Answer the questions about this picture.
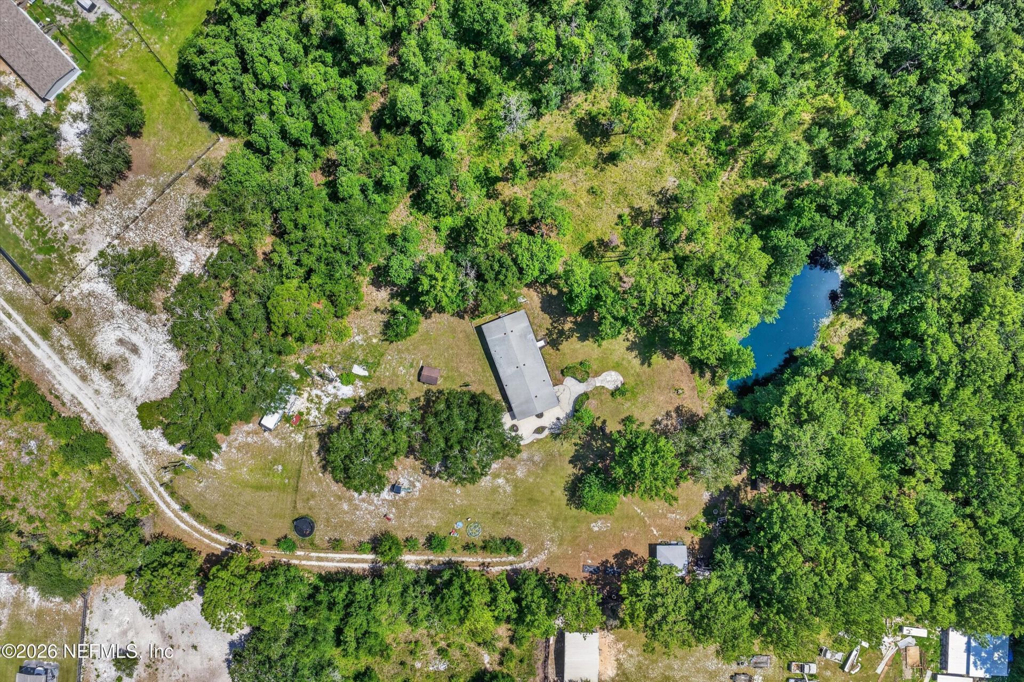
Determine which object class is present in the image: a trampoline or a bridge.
trampoline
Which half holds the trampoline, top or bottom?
bottom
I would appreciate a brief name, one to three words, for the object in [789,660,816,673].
vehicle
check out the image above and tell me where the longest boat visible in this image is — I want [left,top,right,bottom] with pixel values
[842,644,860,674]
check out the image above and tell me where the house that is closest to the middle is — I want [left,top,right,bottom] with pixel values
[482,310,560,420]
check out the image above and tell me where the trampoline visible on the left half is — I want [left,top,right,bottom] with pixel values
[292,515,316,540]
